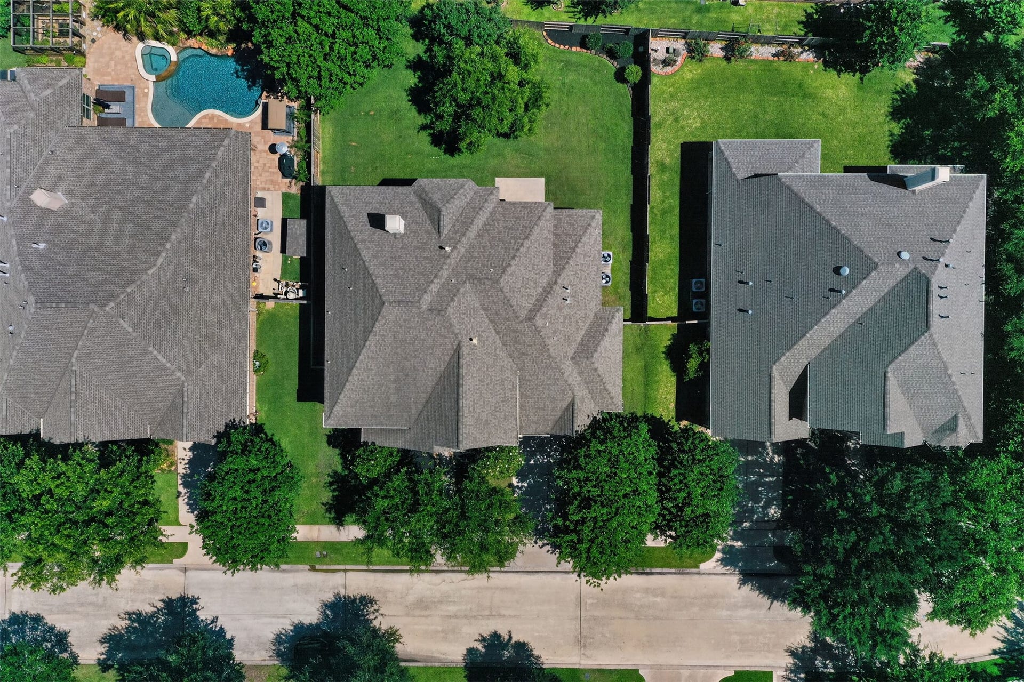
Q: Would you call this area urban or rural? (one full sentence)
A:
It looks urban.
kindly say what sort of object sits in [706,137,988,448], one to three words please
house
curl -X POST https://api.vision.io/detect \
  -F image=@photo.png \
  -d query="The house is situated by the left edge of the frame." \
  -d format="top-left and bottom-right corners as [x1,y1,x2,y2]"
[0,67,258,445]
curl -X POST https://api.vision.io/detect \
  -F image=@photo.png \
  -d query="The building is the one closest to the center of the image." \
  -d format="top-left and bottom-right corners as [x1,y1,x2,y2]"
[323,177,624,451]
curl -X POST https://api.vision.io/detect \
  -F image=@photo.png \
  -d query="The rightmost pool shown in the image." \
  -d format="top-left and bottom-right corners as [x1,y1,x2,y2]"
[177,48,261,67]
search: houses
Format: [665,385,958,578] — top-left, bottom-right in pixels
[323,177,624,451]
[706,137,988,448]
[0,67,258,445]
